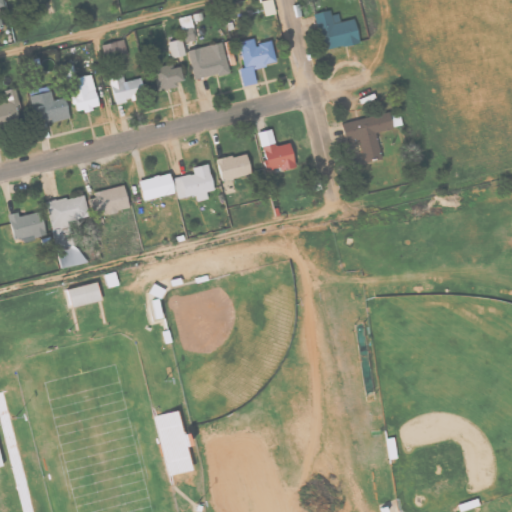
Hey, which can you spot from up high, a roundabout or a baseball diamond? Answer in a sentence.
The image shows a baseball diamond.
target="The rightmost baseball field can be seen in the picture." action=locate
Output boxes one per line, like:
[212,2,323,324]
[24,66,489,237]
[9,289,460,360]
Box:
[368,294,512,512]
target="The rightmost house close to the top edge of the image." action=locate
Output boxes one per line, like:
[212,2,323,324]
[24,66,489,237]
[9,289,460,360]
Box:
[315,11,362,49]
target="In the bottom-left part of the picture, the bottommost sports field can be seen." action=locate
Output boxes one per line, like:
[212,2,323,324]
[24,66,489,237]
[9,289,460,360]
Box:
[45,365,154,512]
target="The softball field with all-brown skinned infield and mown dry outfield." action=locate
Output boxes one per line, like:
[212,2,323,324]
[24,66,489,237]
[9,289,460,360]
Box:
[164,258,297,424]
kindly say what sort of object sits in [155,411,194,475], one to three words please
building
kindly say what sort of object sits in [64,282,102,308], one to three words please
building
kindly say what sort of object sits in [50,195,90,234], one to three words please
house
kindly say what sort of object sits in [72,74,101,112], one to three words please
house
